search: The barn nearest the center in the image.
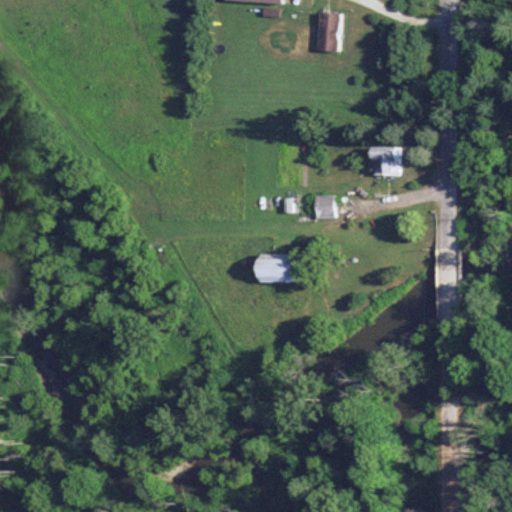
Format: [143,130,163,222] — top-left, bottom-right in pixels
[253,254,294,282]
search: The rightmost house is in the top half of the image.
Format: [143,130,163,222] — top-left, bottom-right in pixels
[368,147,404,180]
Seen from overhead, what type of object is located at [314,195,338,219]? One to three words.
house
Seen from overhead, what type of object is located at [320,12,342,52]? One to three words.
house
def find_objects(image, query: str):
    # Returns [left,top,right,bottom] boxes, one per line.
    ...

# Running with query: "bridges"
[438,242,461,332]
